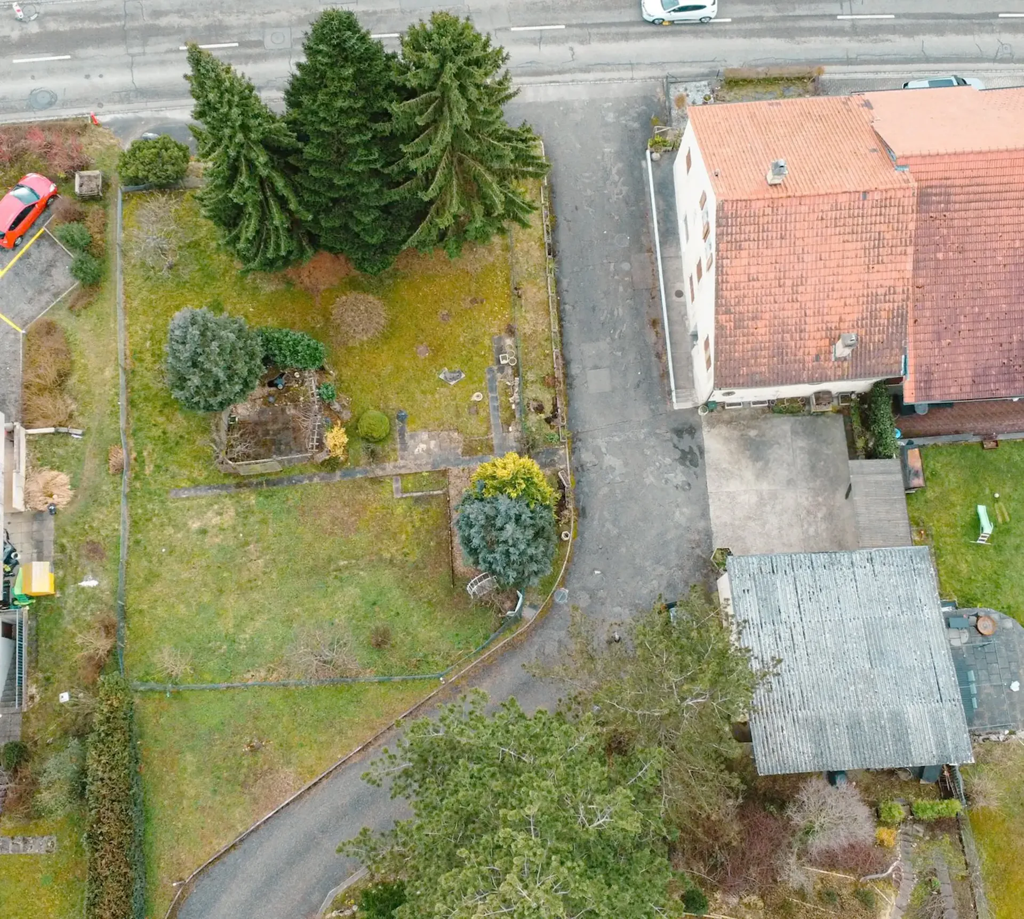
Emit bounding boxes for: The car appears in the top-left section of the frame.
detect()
[0,176,56,250]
